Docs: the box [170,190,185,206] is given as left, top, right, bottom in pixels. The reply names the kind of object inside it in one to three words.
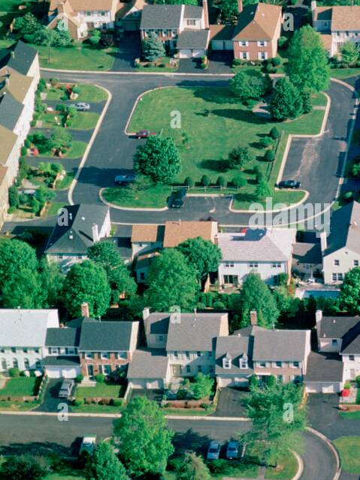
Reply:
car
